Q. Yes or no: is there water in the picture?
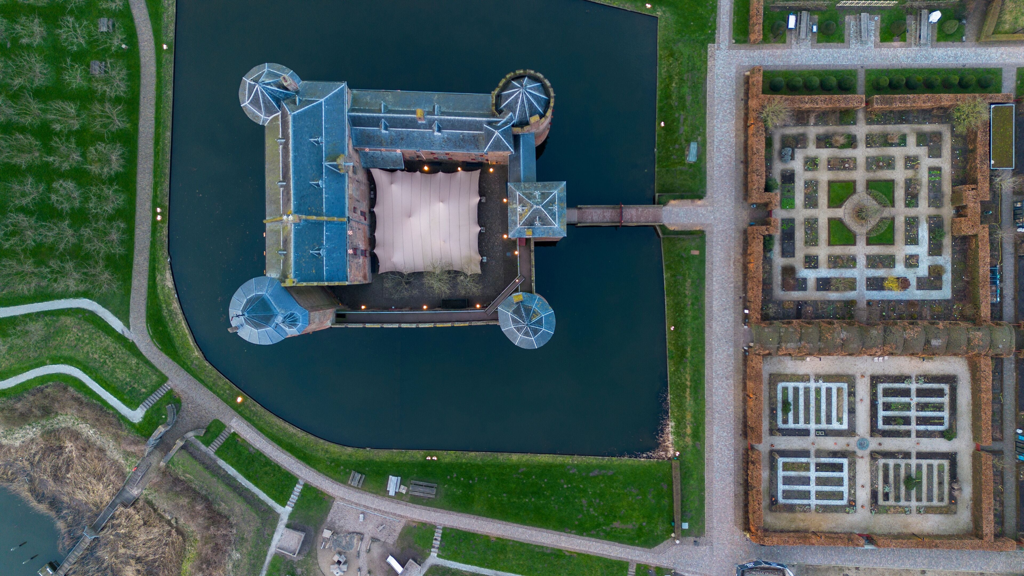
Yes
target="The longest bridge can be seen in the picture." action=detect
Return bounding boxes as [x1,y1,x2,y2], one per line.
[566,204,663,227]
